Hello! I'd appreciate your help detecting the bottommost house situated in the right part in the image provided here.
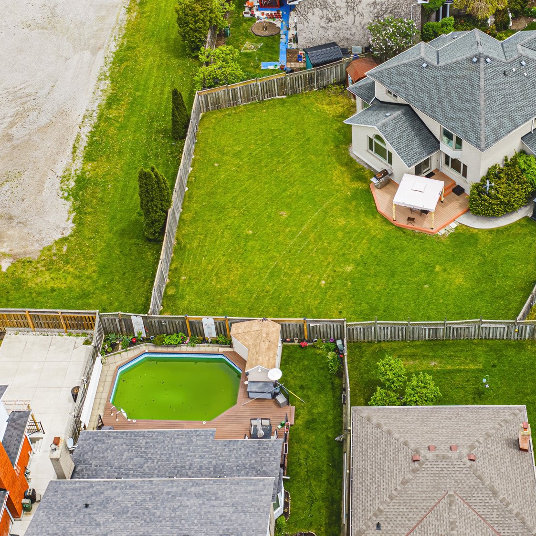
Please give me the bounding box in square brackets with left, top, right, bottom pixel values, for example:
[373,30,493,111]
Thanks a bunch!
[348,404,536,536]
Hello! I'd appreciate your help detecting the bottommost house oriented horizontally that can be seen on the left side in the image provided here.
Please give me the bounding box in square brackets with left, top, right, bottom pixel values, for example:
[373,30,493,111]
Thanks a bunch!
[24,429,290,536]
